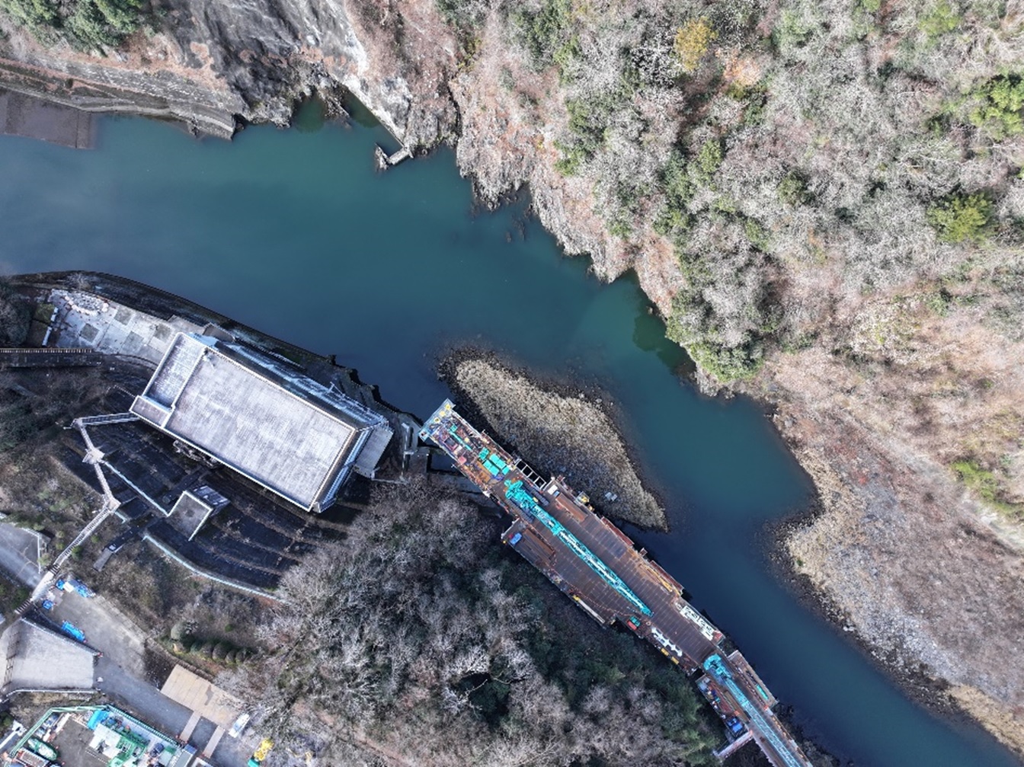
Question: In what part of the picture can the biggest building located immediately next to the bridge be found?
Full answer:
The biggest building located immediately next to the bridge appears toward the left of the photo.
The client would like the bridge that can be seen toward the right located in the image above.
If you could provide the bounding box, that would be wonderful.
[431,411,817,767]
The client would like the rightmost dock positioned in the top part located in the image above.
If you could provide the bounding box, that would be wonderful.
[374,144,413,172]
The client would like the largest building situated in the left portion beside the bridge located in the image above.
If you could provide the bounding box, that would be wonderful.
[130,325,390,511]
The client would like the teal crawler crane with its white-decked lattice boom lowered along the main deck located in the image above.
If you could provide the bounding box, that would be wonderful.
[500,472,653,616]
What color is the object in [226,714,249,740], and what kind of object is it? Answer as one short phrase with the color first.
white vehicle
